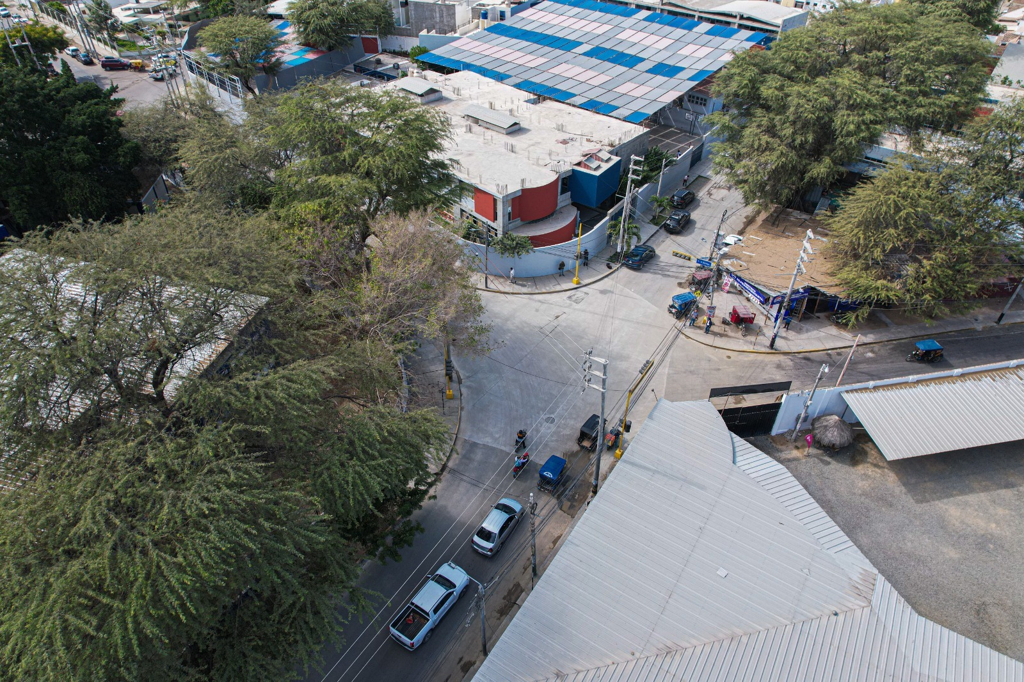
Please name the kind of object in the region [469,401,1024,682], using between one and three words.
shed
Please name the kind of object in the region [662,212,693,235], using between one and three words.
car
